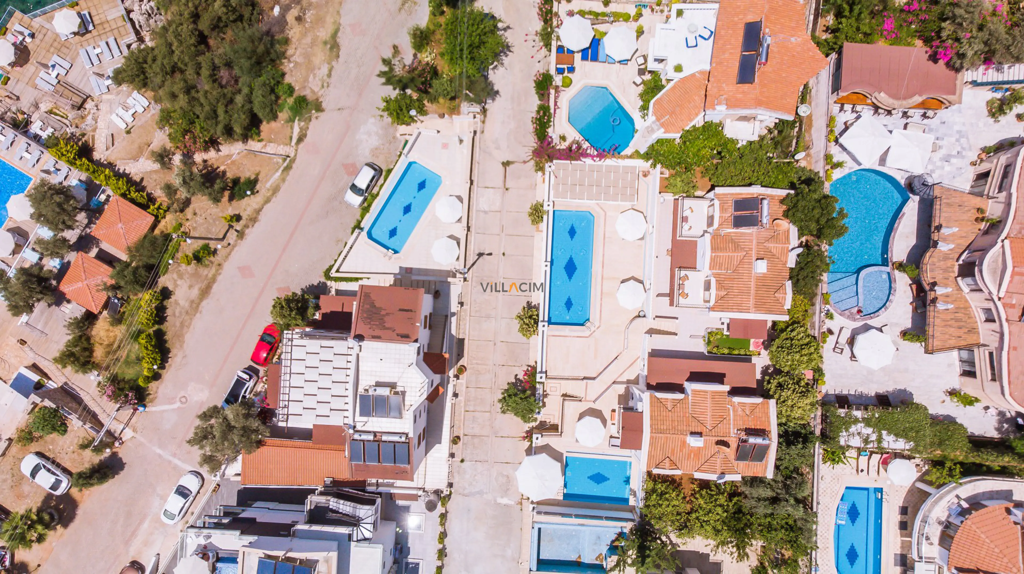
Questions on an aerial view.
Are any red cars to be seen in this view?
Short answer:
Yes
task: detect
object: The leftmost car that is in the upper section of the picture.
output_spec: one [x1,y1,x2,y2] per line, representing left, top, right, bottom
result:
[344,158,385,210]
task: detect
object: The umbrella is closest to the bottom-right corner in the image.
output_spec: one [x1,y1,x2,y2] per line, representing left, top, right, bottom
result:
[885,457,915,486]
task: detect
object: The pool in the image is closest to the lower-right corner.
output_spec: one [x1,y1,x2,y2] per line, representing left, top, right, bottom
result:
[834,487,882,574]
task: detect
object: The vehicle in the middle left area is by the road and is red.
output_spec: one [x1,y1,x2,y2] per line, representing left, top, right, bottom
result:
[248,322,280,369]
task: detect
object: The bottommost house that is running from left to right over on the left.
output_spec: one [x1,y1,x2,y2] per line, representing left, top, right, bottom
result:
[169,479,402,574]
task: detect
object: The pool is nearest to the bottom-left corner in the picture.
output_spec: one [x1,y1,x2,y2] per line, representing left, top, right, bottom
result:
[22,374,41,397]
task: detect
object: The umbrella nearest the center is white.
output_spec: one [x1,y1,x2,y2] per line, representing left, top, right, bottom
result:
[431,236,460,266]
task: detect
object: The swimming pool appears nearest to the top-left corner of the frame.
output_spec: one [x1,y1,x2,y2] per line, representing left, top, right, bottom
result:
[0,158,33,228]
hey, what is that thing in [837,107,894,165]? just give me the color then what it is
white umbrella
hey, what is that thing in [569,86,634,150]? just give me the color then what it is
blue swimming pool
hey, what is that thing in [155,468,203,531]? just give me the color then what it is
white car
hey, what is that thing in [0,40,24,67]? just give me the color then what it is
white umbrella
